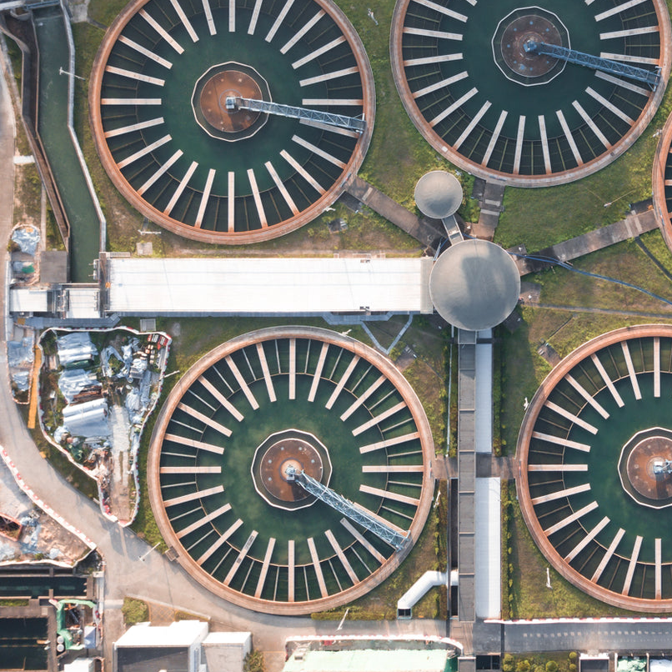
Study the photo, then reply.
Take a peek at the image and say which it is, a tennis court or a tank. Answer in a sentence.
Visible in the photo is a tank.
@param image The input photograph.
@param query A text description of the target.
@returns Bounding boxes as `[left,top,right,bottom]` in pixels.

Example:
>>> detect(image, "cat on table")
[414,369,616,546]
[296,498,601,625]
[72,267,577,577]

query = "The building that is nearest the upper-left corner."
[41,251,79,284]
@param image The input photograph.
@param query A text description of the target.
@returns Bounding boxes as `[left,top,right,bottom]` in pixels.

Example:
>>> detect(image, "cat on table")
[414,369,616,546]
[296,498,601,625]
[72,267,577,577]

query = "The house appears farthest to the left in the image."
[9,288,54,311]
